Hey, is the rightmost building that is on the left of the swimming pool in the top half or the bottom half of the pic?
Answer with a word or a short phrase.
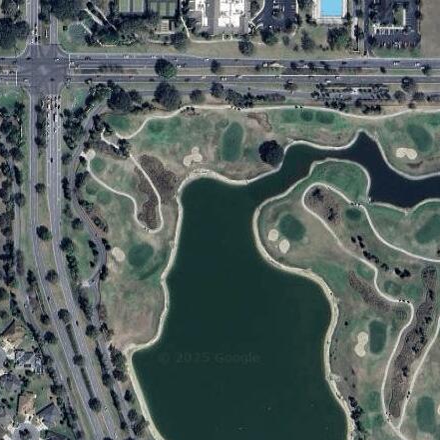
top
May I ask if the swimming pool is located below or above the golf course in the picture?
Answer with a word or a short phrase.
above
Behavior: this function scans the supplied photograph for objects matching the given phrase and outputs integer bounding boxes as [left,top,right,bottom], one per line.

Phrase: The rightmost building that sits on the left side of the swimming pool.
[214,0,250,34]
